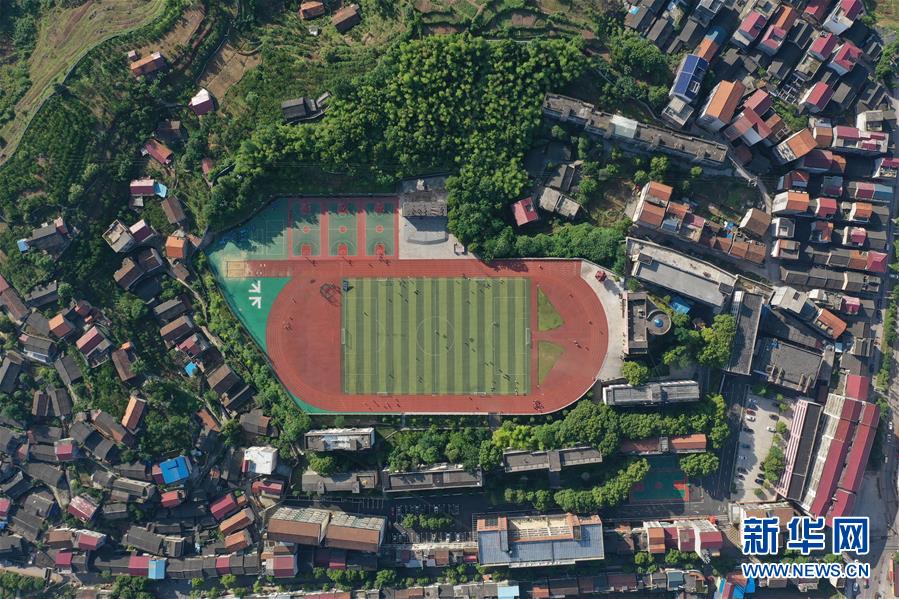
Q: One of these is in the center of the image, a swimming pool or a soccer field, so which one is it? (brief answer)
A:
soccer field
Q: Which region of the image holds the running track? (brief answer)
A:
center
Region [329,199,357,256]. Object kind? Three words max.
basketball court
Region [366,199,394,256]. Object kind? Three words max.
basketball court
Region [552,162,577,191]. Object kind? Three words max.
house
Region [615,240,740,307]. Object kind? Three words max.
building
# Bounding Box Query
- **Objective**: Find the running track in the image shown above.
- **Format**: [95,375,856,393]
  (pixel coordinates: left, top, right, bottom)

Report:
[240,259,608,415]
